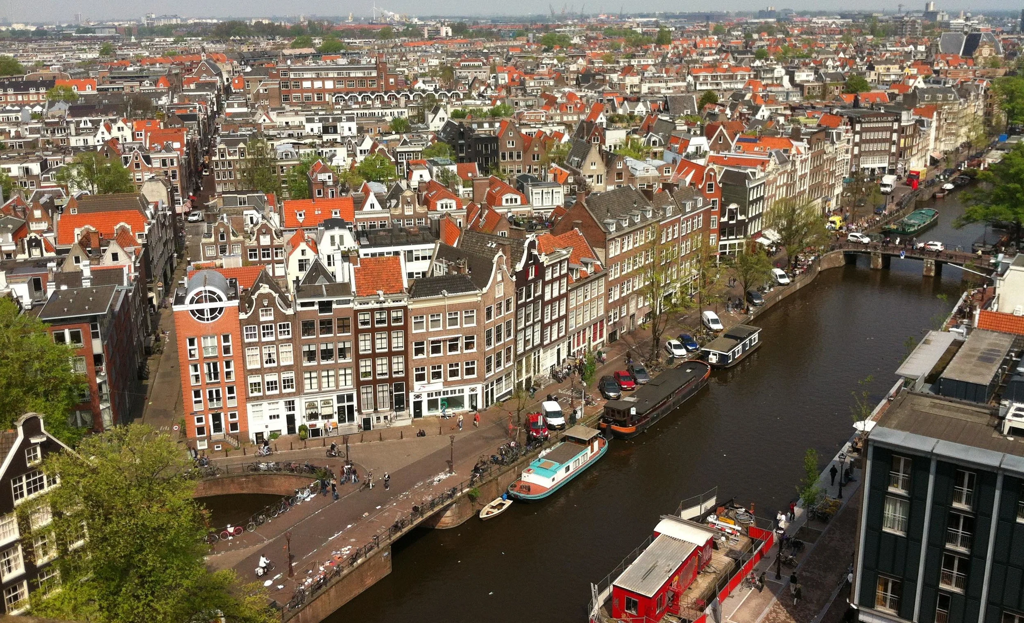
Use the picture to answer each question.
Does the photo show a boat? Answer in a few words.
Yes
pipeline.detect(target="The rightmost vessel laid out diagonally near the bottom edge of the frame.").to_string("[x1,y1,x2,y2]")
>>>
[585,497,772,623]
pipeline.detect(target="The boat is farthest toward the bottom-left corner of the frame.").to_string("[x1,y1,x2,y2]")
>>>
[478,491,519,521]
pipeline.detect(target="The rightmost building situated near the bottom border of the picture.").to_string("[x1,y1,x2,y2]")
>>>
[839,391,1024,623]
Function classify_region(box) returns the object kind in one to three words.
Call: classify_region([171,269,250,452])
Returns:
house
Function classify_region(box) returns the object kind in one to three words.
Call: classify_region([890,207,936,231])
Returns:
vessel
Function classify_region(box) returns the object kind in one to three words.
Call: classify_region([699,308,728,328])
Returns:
vehicle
